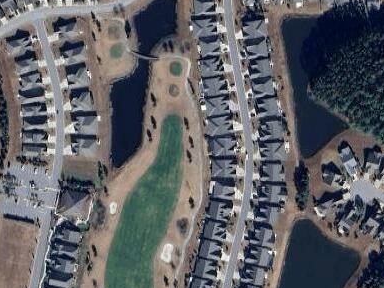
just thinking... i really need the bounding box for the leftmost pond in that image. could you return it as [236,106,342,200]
[109,0,178,166]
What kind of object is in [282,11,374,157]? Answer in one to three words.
pond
